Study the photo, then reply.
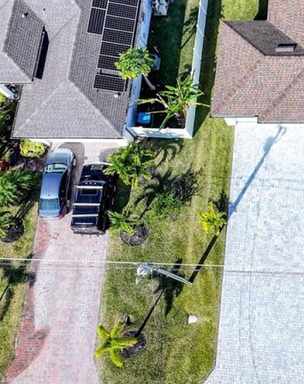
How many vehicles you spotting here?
two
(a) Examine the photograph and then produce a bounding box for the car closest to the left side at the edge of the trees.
[36,147,77,221]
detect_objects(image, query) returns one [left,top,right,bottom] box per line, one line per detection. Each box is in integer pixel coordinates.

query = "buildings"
[0,0,156,148]
[211,0,304,132]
